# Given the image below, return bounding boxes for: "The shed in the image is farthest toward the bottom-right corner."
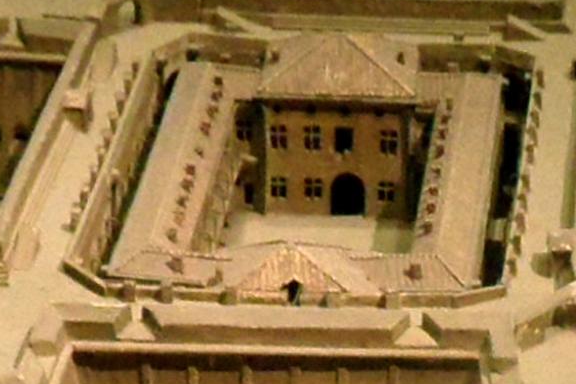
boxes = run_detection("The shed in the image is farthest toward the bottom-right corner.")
[545,233,575,275]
